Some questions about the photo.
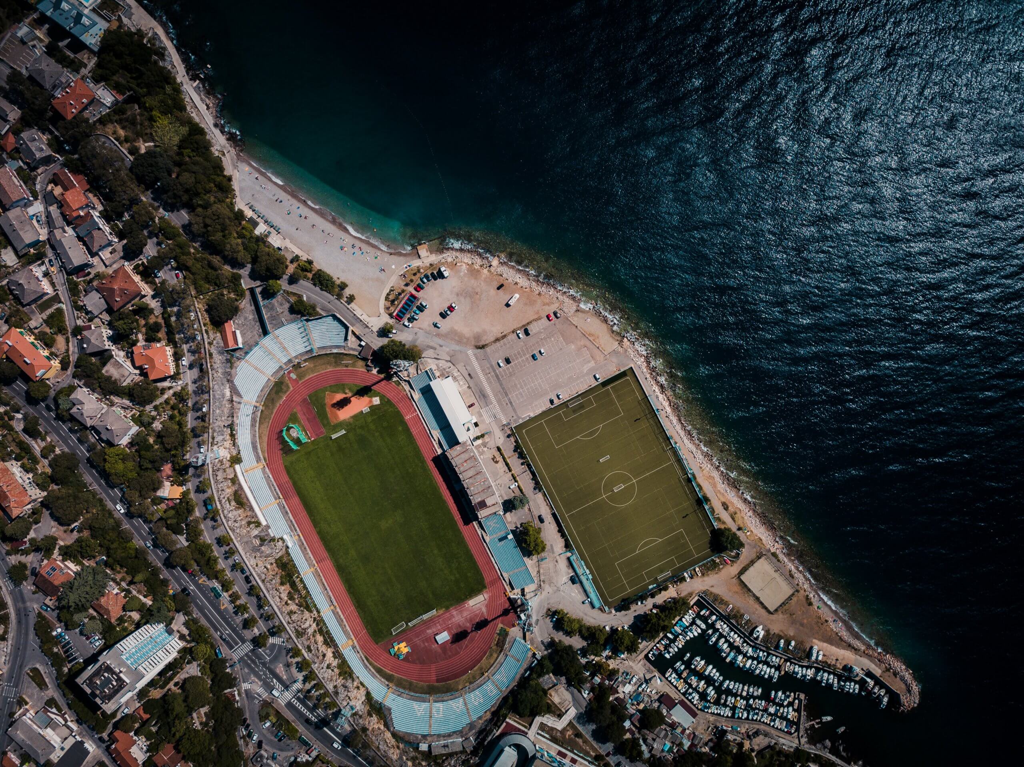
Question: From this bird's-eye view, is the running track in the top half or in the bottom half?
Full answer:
The bottom half of the photo is where the running track is.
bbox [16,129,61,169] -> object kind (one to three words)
house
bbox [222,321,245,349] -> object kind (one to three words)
building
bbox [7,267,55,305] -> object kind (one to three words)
house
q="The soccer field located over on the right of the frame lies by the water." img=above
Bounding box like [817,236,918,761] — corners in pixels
[514,367,717,612]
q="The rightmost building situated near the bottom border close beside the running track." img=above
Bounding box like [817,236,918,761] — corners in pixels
[479,704,597,767]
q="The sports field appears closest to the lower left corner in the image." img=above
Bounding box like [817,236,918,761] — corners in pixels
[281,383,486,644]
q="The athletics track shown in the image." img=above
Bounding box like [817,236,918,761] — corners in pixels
[258,351,522,696]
